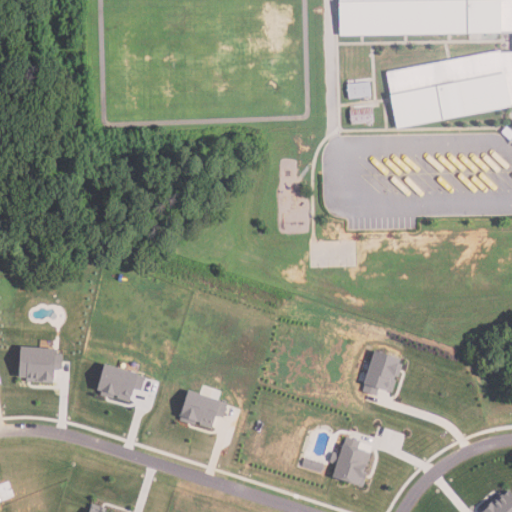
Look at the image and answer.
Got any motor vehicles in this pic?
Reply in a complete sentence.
Yes, a motor vehicle is visible in the scene.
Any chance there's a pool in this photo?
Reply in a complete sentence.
Yes, the frame does contain a pool.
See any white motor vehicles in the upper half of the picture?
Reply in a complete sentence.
Yes, a white motor vehicle is visible in the upper half of the picture.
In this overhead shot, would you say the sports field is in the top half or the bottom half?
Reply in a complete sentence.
Seen from above, the sports field lies in the top half of the view.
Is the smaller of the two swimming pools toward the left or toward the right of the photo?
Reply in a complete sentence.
The smaller of the two swimming pools is on the left side of the image.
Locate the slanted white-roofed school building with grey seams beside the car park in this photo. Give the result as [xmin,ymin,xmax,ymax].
[386,50,512,128]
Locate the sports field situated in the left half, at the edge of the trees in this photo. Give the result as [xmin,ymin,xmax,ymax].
[106,0,302,116]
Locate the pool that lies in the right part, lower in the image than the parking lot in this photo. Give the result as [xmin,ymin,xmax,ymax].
[297,425,336,472]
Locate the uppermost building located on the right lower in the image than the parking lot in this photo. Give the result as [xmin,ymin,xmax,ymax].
[364,350,401,394]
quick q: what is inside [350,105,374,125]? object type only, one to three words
shed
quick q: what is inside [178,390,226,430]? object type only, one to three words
house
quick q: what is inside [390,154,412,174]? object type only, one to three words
bus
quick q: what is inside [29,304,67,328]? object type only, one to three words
swimming pool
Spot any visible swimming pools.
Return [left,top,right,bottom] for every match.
[29,304,67,328]
[297,425,336,472]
